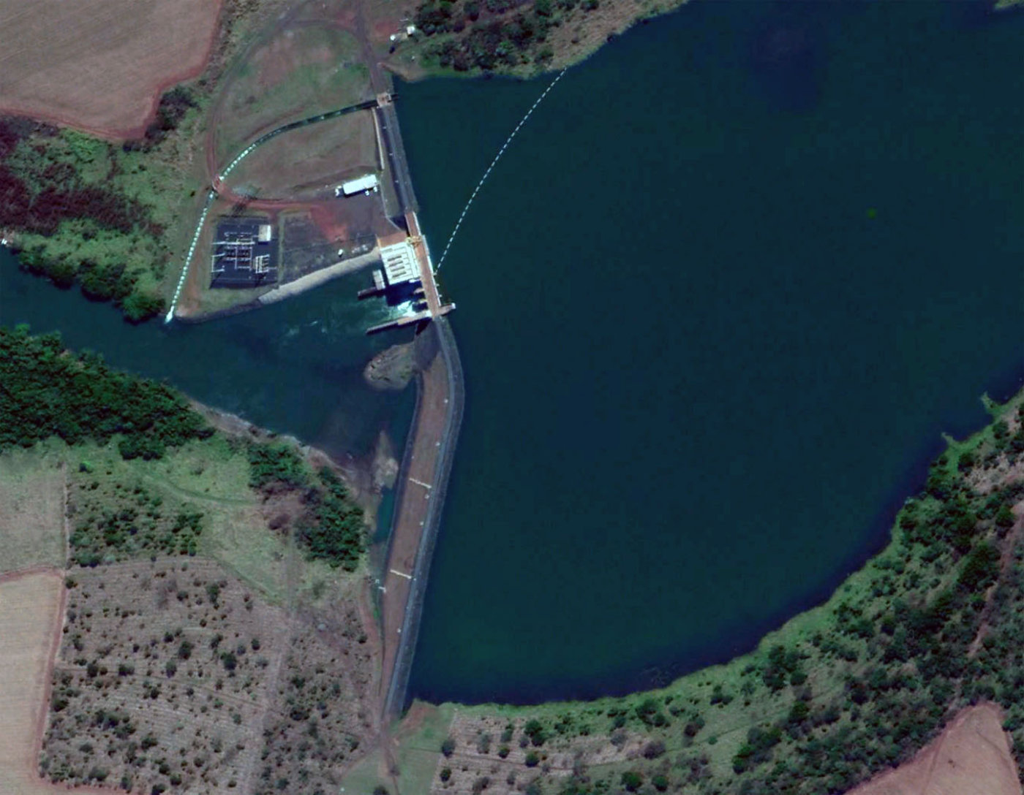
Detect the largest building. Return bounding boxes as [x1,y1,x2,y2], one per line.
[376,233,423,284]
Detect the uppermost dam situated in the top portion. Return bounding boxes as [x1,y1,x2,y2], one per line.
[376,73,418,213]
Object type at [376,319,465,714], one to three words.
dam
